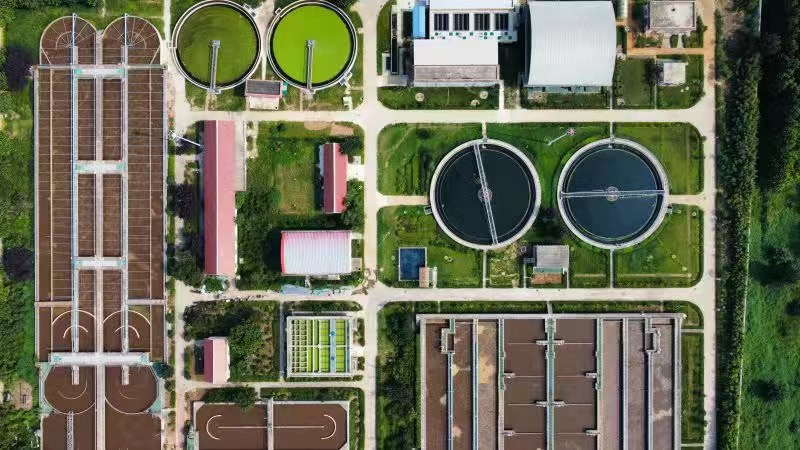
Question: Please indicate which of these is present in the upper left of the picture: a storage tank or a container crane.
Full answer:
Looking in the upper left of the picture, you will find a storage tank.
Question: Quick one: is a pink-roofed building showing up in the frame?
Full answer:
Yes, the photo shows a pink-roofed building.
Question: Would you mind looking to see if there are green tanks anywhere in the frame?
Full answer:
Yes, you can see a green tank in this photo.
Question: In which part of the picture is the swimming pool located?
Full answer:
The swimming pool sits in the center section of the image.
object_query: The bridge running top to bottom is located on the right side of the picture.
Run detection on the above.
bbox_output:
[473,141,498,246]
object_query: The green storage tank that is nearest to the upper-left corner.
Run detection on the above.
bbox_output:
[167,0,263,94]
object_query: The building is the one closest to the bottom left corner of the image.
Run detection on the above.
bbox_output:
[204,336,231,386]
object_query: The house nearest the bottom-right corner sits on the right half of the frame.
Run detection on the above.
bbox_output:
[521,245,569,272]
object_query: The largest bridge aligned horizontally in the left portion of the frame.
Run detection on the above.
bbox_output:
[47,352,150,365]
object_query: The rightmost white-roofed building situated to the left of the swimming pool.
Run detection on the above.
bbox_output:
[280,231,351,280]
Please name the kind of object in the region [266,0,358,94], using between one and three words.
storage tank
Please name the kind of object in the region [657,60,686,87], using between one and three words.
shed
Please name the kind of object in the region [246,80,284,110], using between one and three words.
building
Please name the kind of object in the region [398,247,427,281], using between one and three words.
swimming pool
